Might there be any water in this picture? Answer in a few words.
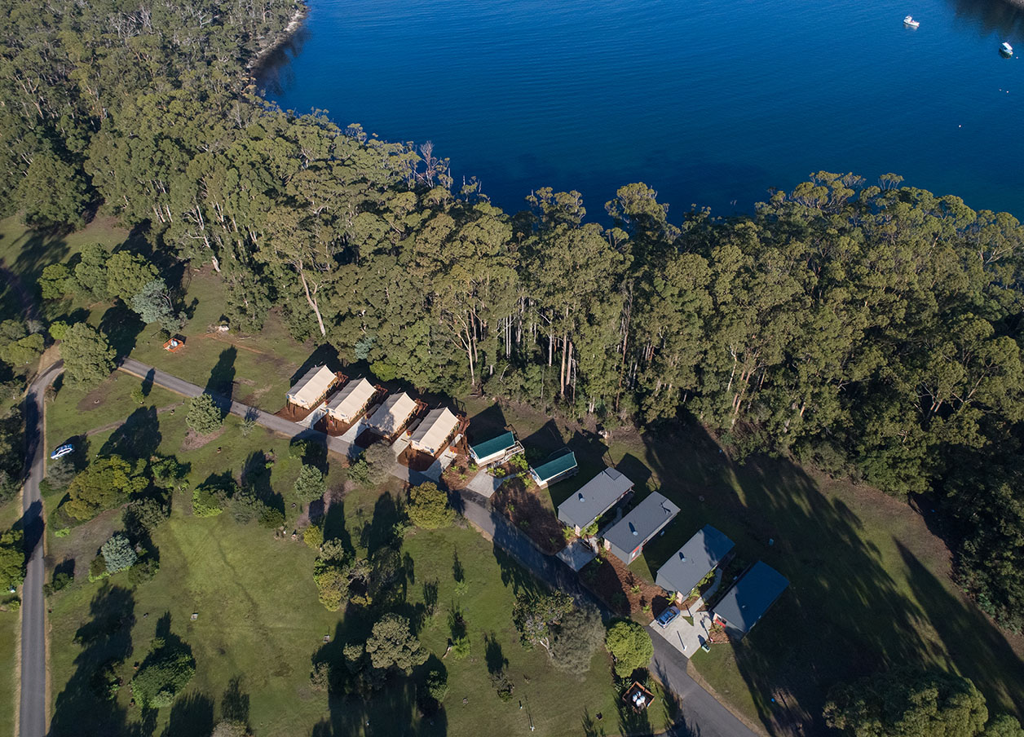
Yes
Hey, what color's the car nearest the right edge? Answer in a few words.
blue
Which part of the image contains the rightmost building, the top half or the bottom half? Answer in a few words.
bottom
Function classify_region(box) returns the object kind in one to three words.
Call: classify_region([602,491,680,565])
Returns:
building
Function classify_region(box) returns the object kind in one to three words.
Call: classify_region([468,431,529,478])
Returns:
building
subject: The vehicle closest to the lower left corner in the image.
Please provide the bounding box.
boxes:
[48,443,76,459]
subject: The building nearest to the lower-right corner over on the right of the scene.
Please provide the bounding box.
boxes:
[711,560,790,644]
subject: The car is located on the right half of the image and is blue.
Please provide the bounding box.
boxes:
[654,603,683,628]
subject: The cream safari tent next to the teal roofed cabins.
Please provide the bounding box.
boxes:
[406,406,467,467]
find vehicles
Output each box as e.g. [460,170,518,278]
[48,443,76,459]
[654,603,683,628]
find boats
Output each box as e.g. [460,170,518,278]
[902,15,921,25]
[998,42,1016,53]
